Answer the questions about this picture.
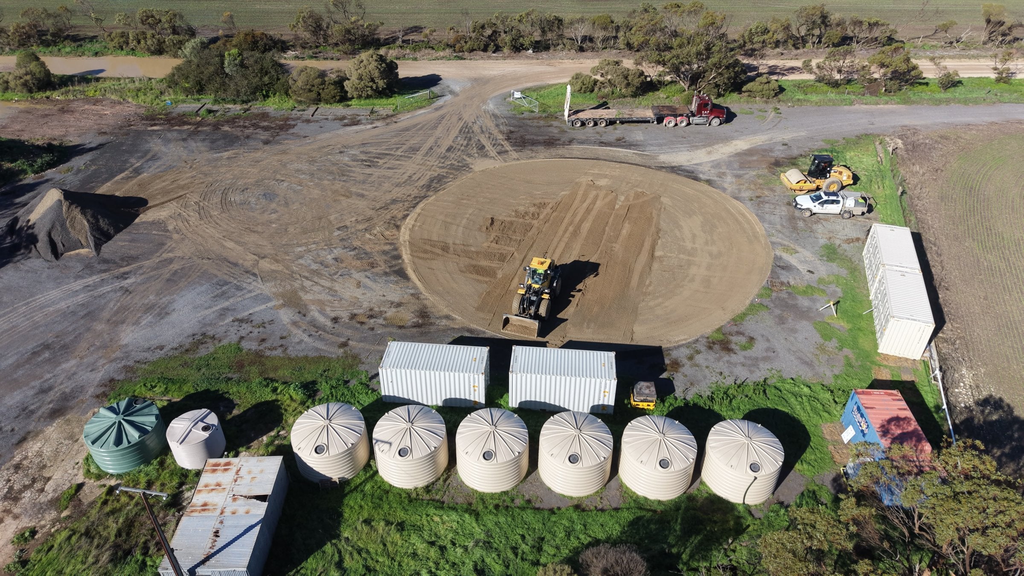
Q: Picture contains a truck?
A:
Yes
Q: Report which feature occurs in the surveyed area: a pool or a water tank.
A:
water tank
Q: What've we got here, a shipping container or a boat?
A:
shipping container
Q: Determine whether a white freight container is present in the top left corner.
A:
No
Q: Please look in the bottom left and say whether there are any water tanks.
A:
Yes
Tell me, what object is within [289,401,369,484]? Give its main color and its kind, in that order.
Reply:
white water tank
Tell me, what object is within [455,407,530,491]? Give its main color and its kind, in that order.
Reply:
white water tank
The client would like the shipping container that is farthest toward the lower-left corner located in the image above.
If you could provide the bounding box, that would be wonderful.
[378,341,490,408]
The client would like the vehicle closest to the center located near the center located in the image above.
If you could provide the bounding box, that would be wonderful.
[504,249,566,339]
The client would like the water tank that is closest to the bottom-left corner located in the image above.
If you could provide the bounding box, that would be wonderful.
[81,398,170,478]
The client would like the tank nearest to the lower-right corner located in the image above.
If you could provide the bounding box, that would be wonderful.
[702,418,786,508]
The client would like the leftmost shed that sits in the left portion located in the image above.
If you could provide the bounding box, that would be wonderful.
[157,448,288,576]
